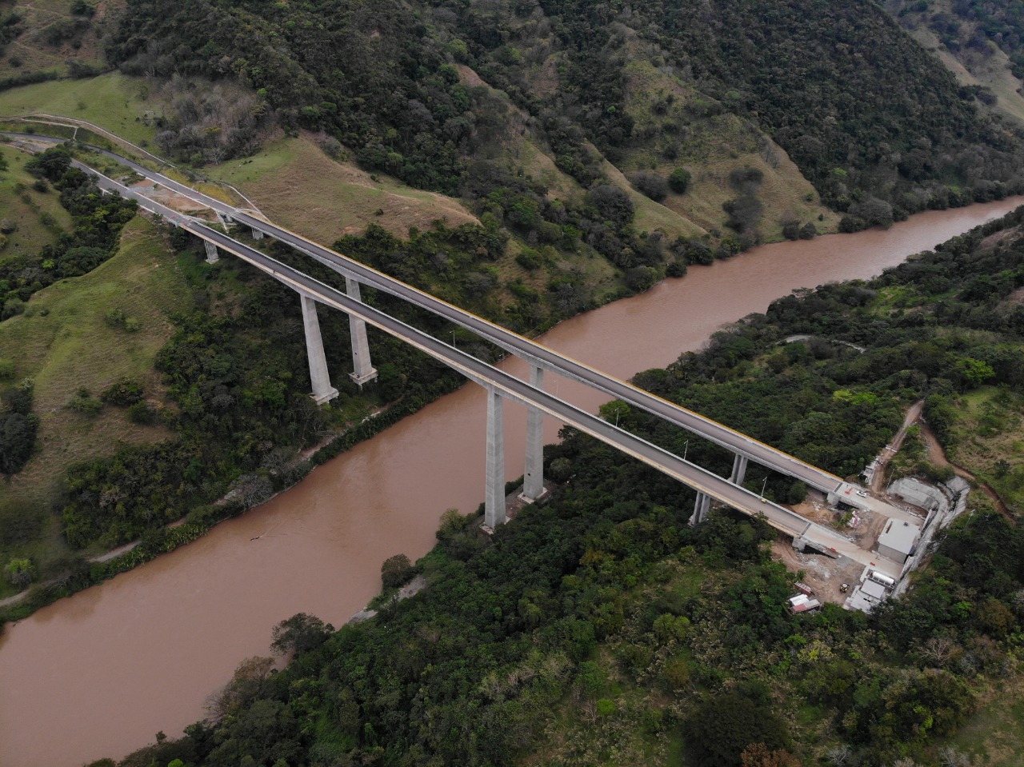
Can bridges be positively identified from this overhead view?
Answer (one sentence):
Yes, the frame does contain a bridge.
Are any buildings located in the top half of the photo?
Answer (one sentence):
No, no building is visible in the top half of the photo.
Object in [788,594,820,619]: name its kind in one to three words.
shed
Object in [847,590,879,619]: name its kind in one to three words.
building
